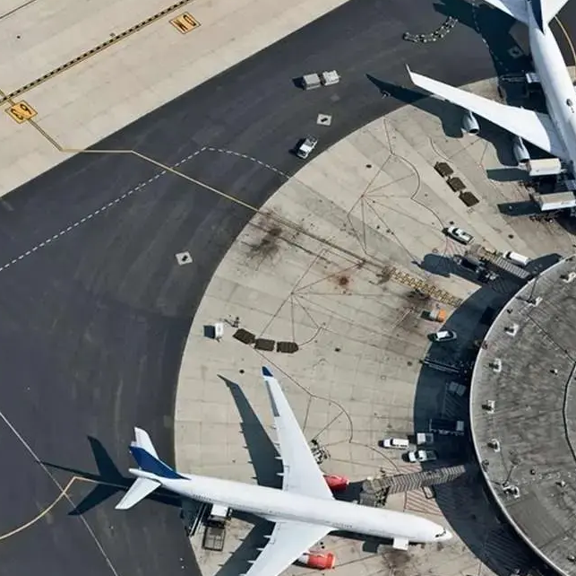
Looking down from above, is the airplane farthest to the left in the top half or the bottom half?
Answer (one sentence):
The bottom half of the photo is where the airplane farthest to the left is.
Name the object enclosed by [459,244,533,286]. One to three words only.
jet bridge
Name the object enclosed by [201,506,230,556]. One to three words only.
work vehicle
